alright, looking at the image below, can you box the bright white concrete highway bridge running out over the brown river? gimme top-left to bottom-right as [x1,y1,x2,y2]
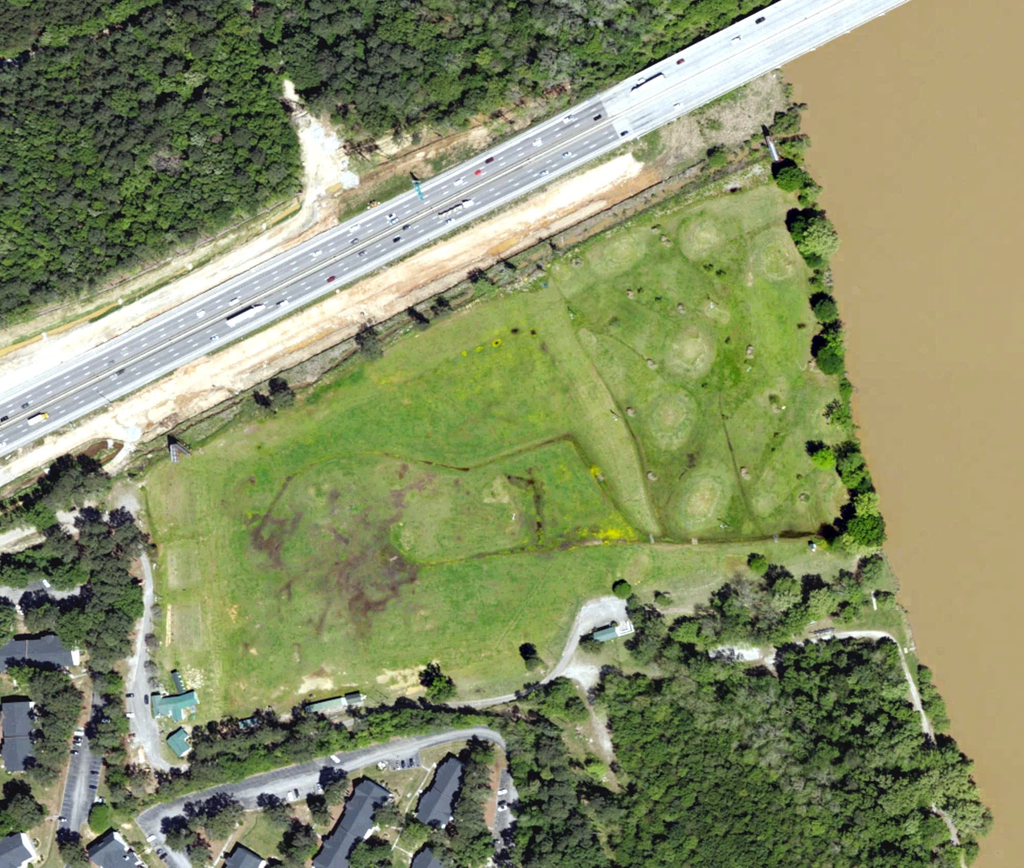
[595,0,910,146]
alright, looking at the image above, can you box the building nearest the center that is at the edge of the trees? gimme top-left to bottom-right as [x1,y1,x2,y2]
[594,621,633,643]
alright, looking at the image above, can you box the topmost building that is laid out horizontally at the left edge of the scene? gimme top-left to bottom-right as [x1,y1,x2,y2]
[0,634,80,673]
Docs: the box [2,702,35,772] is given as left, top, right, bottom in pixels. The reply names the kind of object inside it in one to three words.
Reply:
building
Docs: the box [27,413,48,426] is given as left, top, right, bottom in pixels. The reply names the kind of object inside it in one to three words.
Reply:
vehicle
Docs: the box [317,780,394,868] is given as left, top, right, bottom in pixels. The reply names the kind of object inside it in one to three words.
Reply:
building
